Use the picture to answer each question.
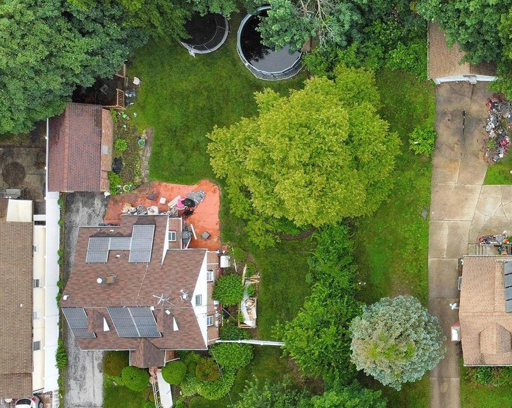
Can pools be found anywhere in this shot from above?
Yes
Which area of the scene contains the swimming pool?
top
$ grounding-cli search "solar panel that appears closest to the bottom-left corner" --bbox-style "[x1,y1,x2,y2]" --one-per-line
[61,309,94,338]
